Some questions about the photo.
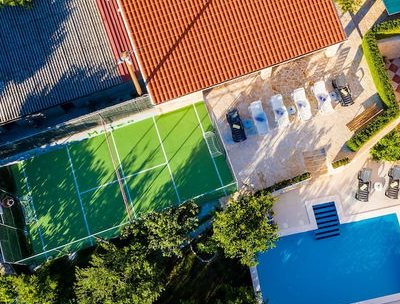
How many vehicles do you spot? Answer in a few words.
0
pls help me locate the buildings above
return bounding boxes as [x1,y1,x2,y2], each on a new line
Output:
[0,0,129,140]
[116,0,349,113]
